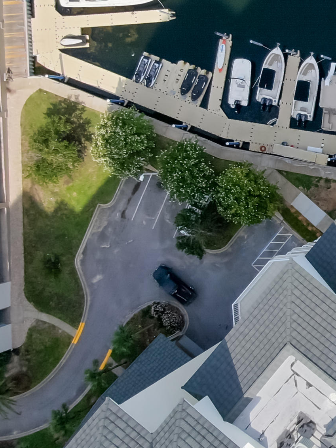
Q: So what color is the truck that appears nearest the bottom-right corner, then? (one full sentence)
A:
The truck that appears nearest the bottom-right corner looks black in the image.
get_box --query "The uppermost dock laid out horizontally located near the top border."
[57,9,169,28]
